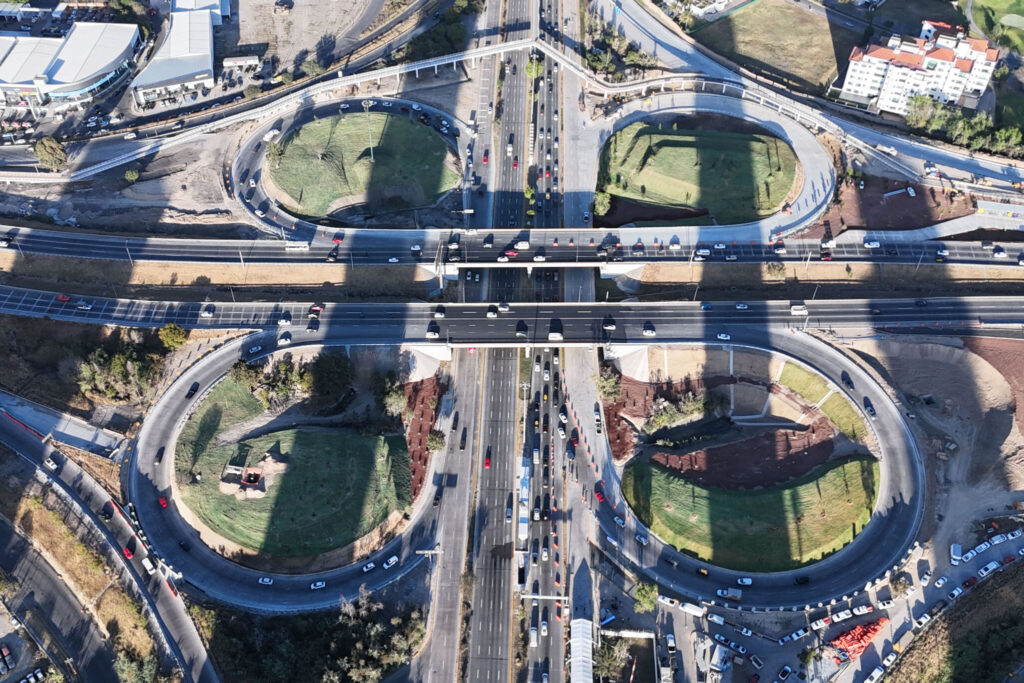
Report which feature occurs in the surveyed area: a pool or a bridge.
bridge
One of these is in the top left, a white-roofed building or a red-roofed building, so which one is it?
white-roofed building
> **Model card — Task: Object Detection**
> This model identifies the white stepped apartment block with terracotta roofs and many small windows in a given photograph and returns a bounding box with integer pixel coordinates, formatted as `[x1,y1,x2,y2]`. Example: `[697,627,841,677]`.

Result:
[835,17,1007,116]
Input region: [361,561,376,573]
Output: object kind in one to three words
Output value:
vehicle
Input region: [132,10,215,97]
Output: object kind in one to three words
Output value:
building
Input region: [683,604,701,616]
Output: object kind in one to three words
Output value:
vehicle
